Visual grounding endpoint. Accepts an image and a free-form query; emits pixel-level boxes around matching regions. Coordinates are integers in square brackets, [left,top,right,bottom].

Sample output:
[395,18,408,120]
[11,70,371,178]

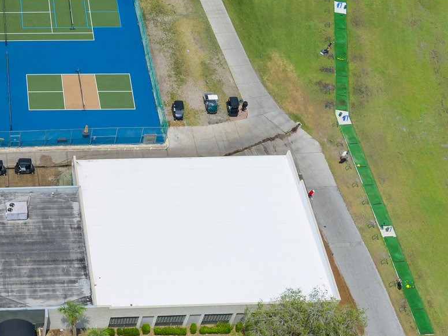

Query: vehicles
[171,98,185,120]
[225,96,240,117]
[0,159,7,177]
[203,94,218,114]
[14,157,35,174]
